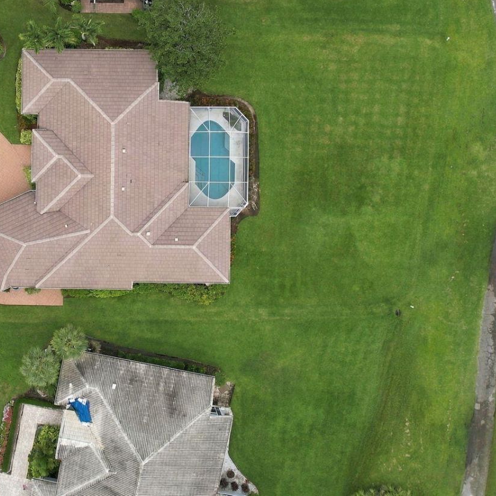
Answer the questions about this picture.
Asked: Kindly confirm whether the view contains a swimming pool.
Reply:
Yes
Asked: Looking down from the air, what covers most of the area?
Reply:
grass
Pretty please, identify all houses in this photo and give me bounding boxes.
[0,48,231,293]
[27,350,233,496]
